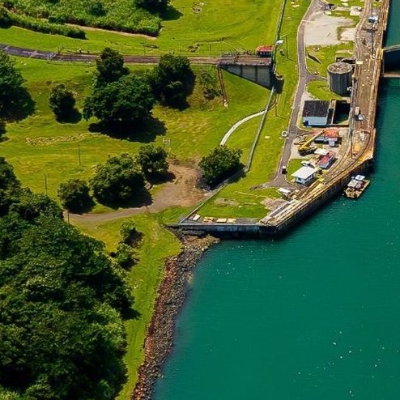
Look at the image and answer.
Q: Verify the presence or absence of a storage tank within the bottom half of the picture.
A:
No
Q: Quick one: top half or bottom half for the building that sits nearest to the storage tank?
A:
top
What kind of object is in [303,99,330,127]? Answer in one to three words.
building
